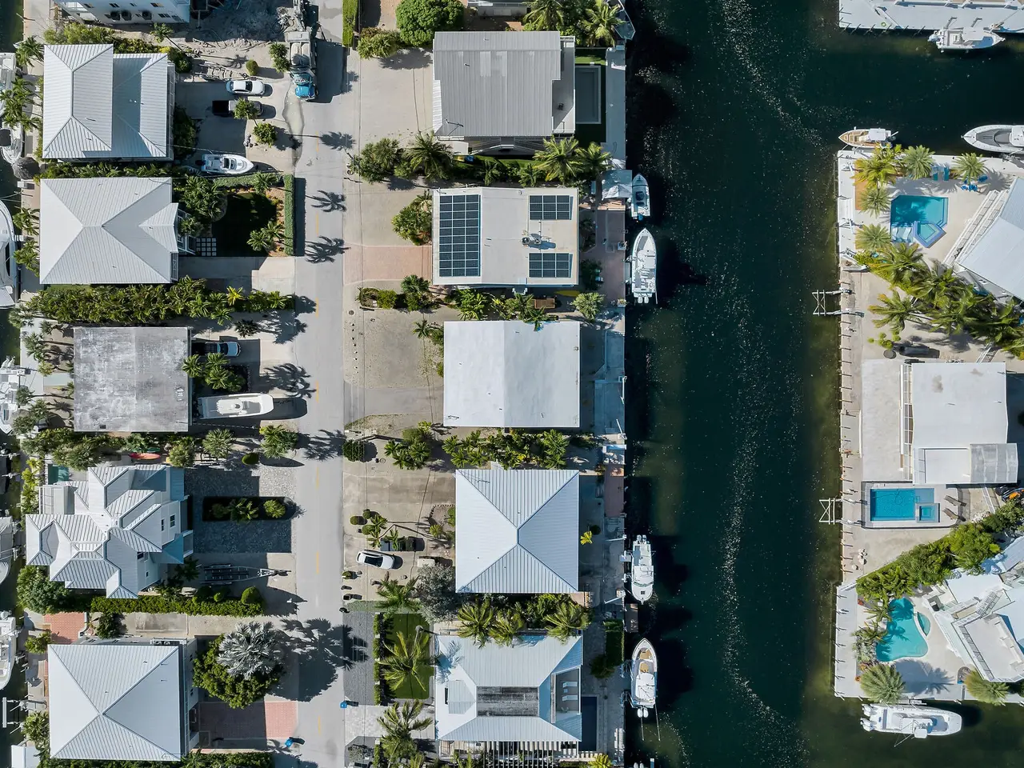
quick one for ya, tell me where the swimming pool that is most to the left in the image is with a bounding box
[44,462,70,482]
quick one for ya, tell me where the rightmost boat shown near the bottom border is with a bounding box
[863,707,968,743]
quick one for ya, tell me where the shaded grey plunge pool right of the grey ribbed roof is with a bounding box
[576,63,602,124]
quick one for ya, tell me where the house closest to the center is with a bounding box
[443,322,580,427]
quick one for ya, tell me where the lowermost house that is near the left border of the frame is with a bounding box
[48,635,198,762]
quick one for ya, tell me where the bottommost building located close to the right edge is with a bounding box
[922,524,1024,683]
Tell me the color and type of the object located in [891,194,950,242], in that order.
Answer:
blue swimming pool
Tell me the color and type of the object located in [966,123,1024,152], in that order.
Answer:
white boat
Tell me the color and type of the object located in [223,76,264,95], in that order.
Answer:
white car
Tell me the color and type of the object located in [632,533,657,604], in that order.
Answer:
white boat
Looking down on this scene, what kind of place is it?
residential area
